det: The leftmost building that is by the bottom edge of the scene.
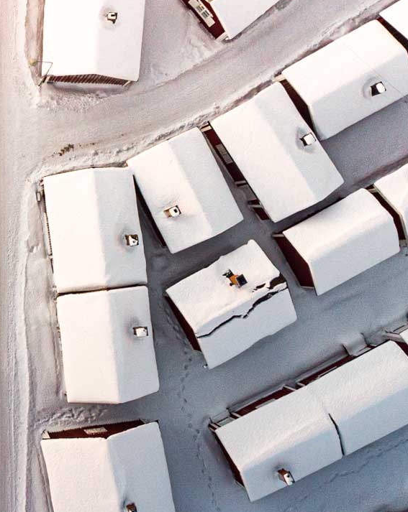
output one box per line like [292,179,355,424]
[42,417,175,512]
